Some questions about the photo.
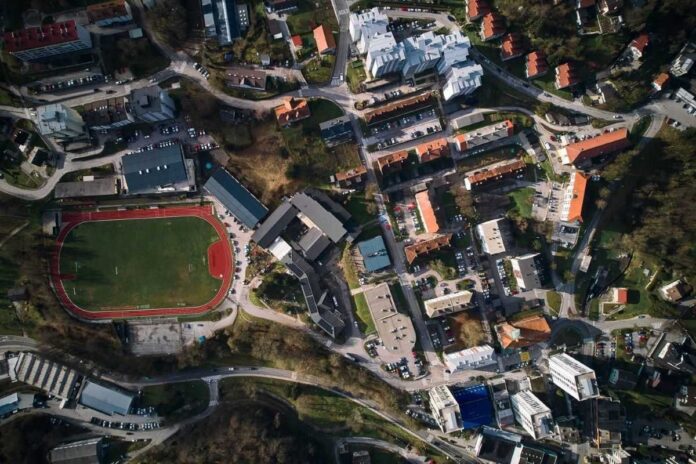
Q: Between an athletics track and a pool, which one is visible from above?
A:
athletics track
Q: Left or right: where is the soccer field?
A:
left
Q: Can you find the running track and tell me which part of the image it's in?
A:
left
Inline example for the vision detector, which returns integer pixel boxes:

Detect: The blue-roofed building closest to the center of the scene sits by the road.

[358,236,391,272]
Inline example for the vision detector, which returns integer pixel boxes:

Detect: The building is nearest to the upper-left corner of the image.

[5,19,92,61]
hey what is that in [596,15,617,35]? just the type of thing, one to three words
shed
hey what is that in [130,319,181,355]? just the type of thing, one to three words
sports court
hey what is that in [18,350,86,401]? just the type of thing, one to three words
building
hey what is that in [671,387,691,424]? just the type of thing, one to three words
house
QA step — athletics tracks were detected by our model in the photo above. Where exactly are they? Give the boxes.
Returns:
[50,205,233,319]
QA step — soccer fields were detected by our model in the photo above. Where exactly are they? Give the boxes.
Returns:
[58,216,222,311]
